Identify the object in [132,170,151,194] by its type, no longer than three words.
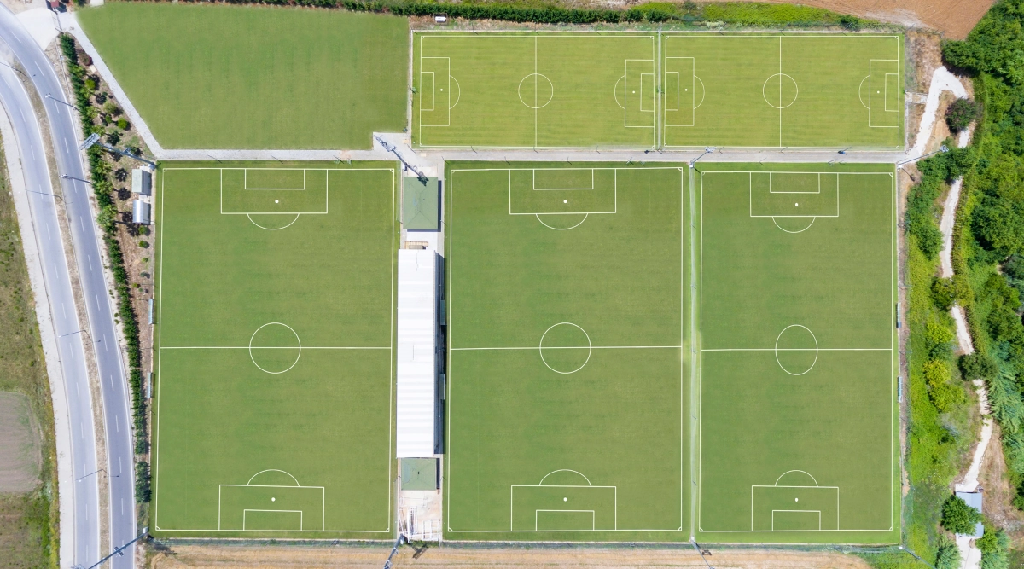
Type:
shed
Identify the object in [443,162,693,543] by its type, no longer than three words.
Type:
soccer field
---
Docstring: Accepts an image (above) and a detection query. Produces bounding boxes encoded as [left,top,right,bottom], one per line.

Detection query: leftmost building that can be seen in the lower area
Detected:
[401,456,436,490]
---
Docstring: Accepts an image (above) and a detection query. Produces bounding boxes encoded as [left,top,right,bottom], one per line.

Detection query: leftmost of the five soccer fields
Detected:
[149,161,401,540]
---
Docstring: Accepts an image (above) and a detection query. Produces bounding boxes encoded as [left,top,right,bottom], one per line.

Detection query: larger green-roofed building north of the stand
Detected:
[404,176,438,230]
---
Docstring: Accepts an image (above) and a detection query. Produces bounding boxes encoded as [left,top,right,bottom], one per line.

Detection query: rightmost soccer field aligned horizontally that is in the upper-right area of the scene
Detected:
[661,32,905,150]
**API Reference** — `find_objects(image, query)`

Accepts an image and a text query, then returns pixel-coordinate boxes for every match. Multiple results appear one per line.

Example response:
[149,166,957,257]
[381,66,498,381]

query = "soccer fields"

[661,32,905,150]
[413,32,658,148]
[149,161,401,540]
[693,163,902,544]
[443,162,693,543]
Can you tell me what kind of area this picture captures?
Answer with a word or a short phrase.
sports ground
